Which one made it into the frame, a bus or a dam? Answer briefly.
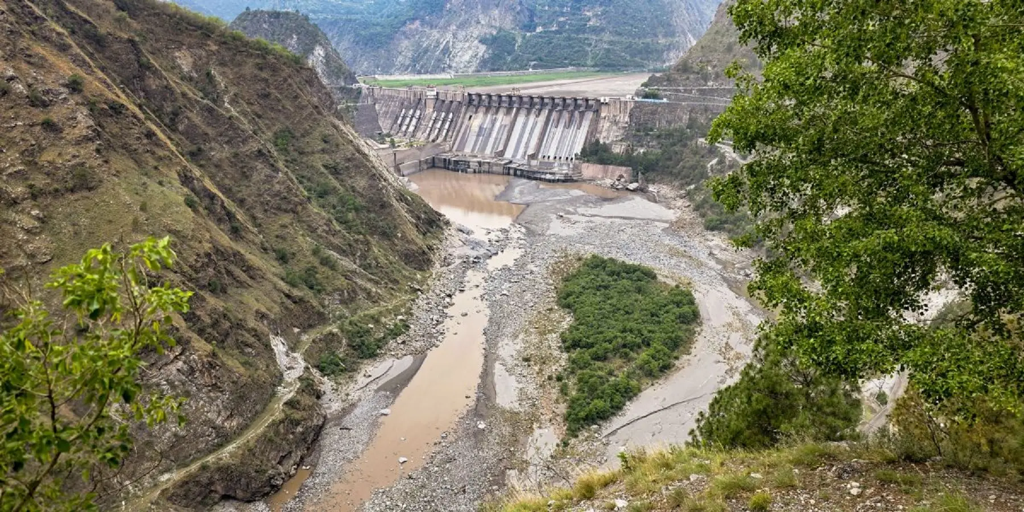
dam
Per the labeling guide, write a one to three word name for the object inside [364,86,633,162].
dam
